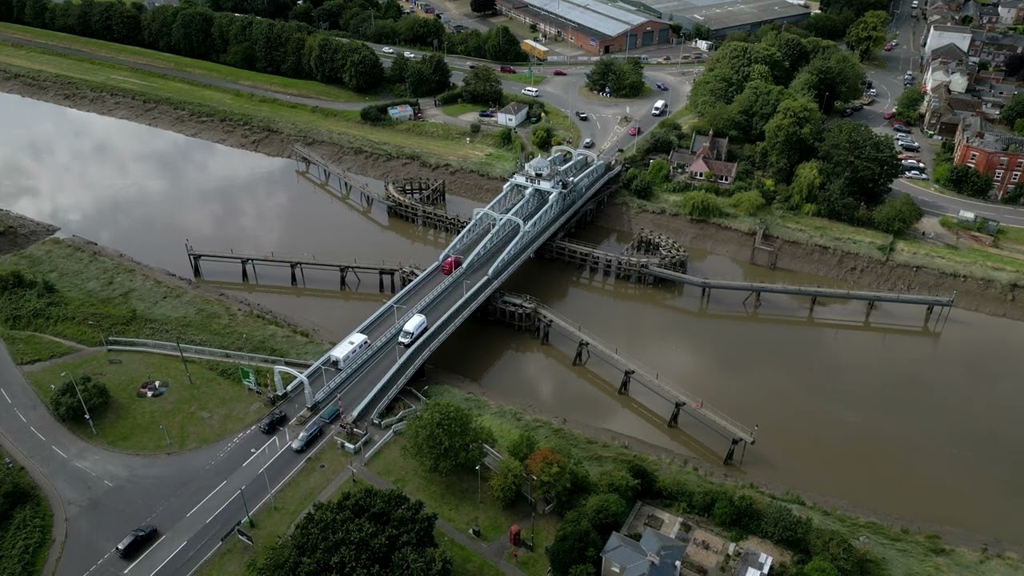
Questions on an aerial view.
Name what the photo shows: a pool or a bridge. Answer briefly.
bridge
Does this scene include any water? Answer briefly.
Yes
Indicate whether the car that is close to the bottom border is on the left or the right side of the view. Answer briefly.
left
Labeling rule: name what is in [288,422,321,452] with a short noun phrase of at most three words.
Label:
car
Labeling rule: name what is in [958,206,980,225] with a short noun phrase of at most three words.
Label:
shed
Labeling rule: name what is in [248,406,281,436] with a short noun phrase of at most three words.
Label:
car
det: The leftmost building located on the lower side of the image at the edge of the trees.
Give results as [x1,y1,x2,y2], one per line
[601,528,689,576]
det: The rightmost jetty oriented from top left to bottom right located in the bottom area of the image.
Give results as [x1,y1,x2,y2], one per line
[533,303,758,449]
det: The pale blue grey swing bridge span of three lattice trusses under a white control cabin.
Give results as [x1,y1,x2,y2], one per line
[439,146,622,291]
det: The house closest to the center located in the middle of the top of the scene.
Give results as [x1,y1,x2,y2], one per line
[496,103,533,128]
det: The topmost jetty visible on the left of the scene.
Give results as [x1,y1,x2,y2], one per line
[289,143,399,212]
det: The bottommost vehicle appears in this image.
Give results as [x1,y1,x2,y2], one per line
[109,520,154,557]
